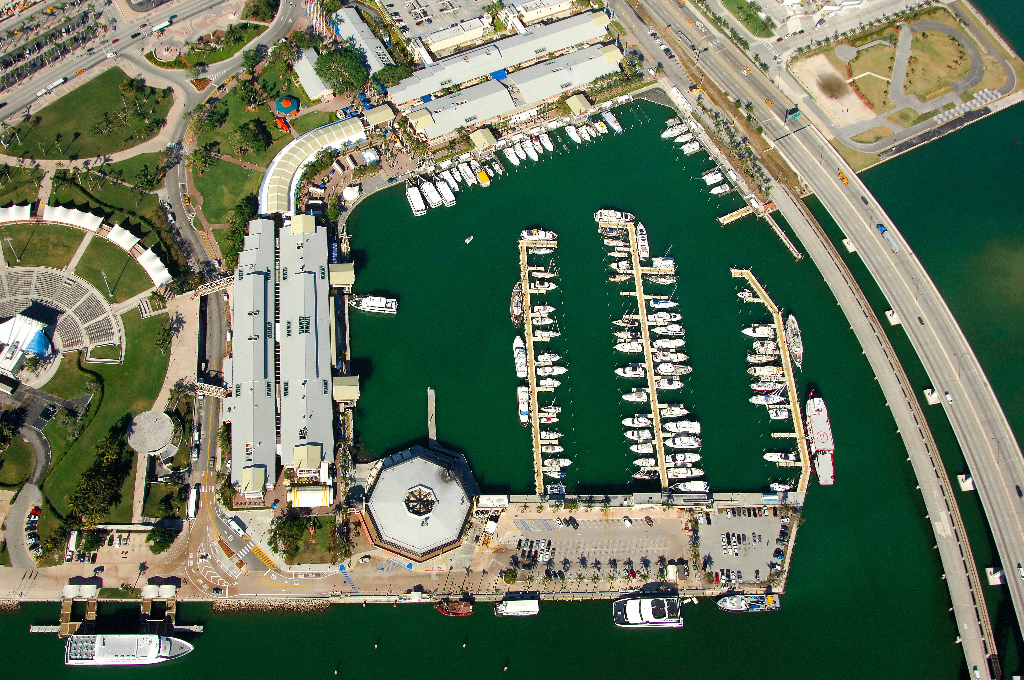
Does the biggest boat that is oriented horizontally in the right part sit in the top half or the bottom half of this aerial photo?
bottom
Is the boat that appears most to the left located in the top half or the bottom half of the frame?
bottom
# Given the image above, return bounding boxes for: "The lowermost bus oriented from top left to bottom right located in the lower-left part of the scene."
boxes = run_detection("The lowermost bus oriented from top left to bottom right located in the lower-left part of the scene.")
[225,516,248,539]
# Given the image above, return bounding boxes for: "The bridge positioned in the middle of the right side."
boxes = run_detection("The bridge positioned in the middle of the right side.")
[757,80,1024,680]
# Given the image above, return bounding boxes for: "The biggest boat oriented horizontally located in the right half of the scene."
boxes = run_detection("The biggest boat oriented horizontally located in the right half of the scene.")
[614,597,685,626]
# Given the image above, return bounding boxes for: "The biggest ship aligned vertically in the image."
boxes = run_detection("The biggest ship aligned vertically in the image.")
[806,388,838,484]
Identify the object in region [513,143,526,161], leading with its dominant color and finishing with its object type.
white boat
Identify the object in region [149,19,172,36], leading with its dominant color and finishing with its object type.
white vehicle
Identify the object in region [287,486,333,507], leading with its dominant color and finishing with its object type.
white tent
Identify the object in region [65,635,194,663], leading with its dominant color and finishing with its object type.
white boat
